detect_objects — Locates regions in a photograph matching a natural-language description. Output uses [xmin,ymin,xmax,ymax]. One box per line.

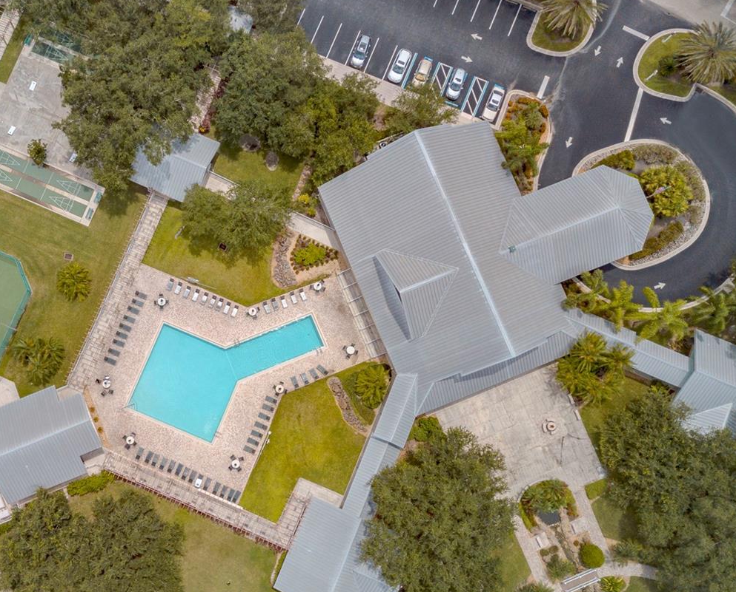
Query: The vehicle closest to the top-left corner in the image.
[351,35,371,68]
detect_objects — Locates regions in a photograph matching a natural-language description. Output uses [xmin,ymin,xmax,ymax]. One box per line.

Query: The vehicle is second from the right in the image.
[444,67,466,101]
